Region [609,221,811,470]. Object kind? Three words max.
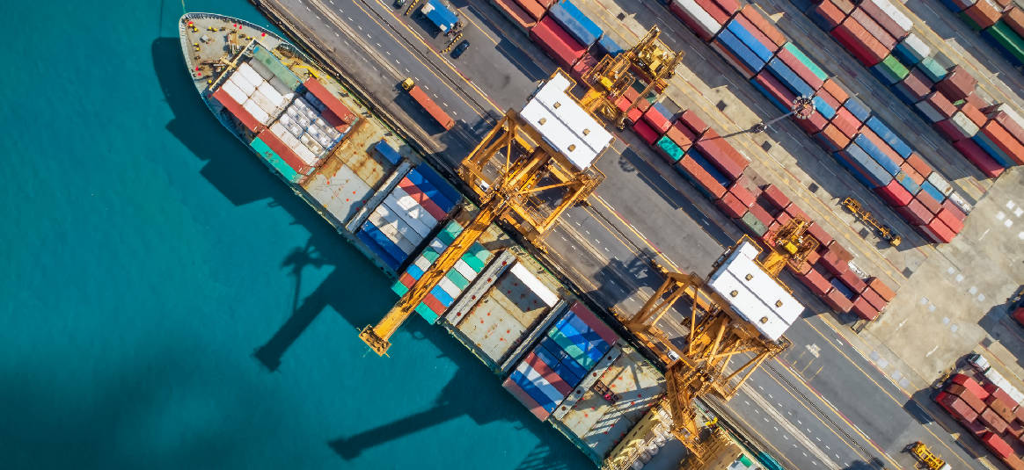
container crane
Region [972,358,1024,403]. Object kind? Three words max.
shipping container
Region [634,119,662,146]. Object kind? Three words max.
shipping container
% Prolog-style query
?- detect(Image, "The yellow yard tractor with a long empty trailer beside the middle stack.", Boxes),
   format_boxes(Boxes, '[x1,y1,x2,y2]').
[842,195,902,247]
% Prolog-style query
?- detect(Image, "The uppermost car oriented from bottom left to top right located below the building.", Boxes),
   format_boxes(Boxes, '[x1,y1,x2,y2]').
[451,41,468,59]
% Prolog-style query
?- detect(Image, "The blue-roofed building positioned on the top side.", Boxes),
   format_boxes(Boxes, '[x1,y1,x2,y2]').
[419,0,459,35]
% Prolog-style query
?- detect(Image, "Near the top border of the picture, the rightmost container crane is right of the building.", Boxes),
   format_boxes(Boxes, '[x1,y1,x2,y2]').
[614,18,683,129]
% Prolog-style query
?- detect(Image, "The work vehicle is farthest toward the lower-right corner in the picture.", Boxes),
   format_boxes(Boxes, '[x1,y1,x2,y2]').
[906,435,955,470]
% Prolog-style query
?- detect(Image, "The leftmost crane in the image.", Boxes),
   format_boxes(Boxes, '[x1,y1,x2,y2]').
[365,58,629,353]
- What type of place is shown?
port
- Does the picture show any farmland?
No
